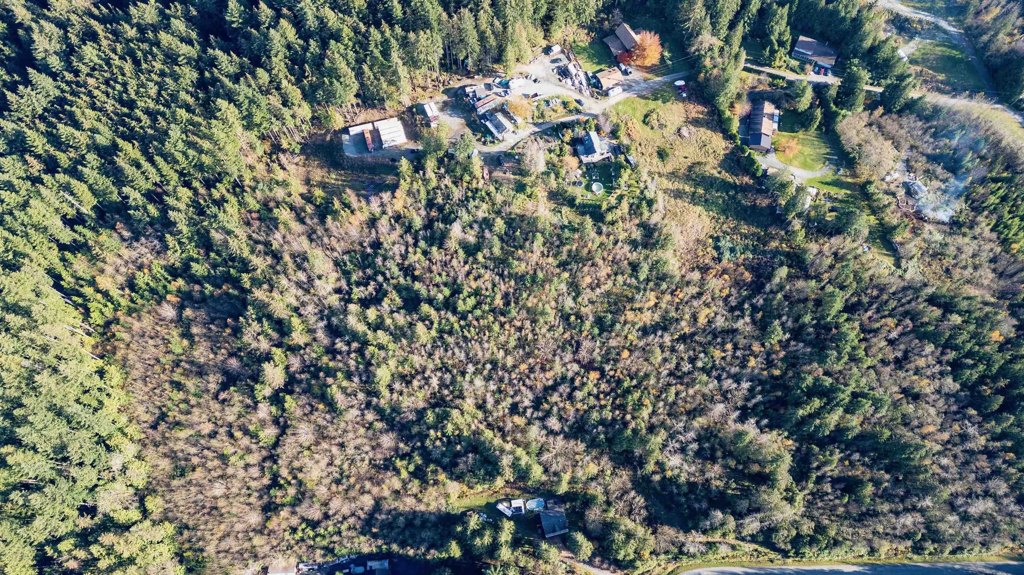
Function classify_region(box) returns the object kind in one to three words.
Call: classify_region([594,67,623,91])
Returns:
house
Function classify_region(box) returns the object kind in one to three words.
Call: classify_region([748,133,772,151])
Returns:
building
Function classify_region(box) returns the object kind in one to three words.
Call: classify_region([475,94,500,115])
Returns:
barn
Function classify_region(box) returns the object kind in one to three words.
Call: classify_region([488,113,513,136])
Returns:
building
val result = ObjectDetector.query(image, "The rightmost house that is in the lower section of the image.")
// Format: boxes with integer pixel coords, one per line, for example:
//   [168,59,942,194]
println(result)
[540,511,569,539]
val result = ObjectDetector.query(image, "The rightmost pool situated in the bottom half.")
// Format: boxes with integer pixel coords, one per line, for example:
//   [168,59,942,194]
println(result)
[527,498,544,511]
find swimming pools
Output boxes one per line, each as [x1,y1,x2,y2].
[527,498,544,511]
[351,565,365,575]
[592,182,603,194]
